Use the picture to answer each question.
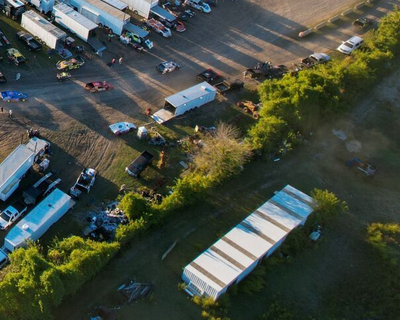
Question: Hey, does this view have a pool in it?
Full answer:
No, the photo shows no pool.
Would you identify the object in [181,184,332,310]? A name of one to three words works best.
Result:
shed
